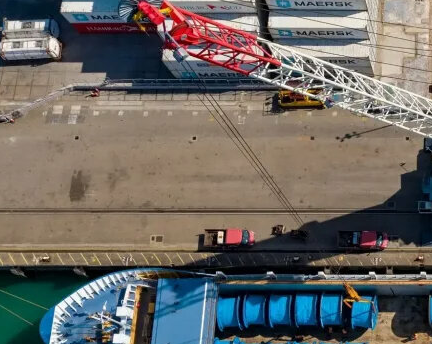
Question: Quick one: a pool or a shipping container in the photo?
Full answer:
There is a shipping container in the scene.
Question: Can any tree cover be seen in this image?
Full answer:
No, tree cover can't be seen anywhere here.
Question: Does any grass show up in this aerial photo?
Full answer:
No, the picture contains no grass.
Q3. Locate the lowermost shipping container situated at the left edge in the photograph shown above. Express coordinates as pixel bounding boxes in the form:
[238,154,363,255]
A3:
[0,37,65,64]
